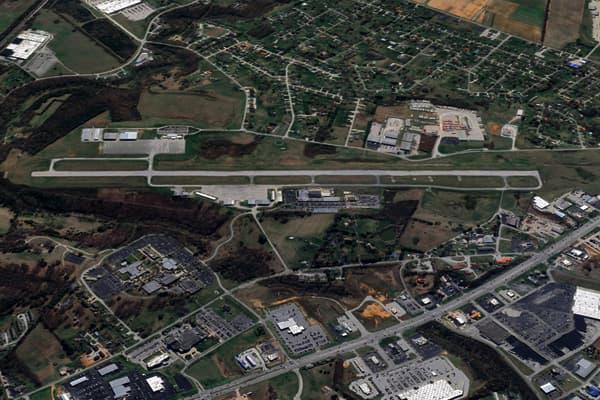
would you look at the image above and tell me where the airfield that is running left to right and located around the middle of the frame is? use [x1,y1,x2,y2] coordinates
[32,139,543,201]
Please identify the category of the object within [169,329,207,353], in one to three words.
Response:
building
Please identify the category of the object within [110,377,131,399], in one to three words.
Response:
building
